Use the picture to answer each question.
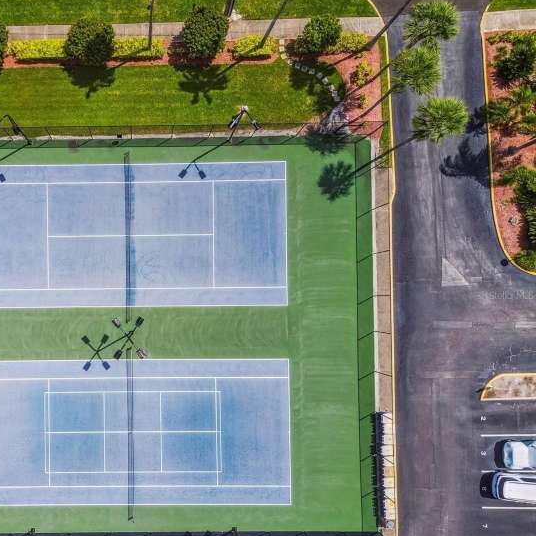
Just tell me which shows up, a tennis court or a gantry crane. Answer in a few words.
tennis court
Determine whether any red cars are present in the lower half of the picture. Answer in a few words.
No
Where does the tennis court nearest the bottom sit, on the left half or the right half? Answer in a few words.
left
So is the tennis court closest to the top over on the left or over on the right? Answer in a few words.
left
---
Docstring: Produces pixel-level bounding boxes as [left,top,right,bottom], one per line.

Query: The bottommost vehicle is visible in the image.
[488,470,536,502]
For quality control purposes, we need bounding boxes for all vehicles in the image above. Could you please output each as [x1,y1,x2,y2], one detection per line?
[500,439,536,471]
[488,470,536,502]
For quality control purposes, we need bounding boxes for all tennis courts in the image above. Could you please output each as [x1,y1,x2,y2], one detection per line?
[0,359,291,506]
[0,160,288,308]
